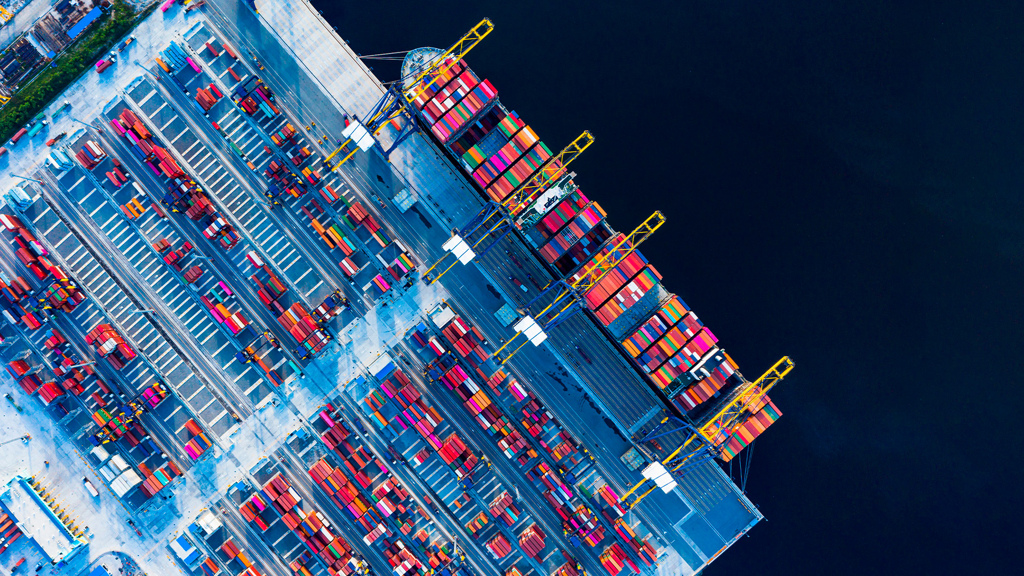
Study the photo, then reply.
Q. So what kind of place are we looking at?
port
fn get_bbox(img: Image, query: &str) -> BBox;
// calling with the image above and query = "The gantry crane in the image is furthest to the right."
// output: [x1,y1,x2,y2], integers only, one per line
[620,355,796,508]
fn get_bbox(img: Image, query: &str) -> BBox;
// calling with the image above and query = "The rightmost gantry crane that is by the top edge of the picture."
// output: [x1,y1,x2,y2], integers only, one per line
[324,17,496,172]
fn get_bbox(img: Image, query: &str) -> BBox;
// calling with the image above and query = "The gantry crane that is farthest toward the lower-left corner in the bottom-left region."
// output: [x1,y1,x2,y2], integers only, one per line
[89,413,143,450]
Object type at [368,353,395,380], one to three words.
building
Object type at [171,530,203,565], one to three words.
building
